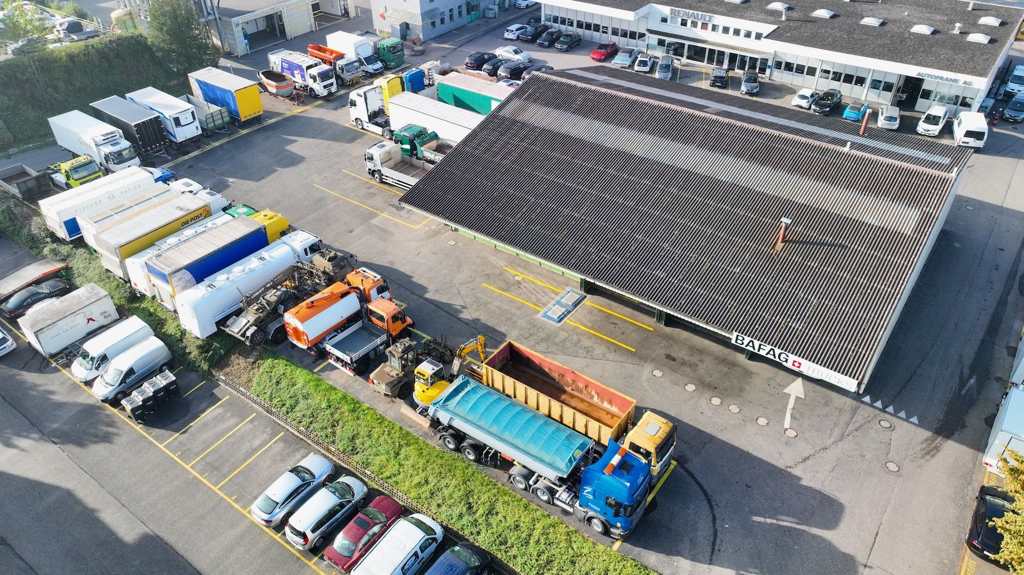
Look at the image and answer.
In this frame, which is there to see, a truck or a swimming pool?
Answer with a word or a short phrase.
truck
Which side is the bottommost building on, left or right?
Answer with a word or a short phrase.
right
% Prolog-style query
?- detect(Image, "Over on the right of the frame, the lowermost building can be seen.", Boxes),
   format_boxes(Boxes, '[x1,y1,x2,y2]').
[398,64,972,408]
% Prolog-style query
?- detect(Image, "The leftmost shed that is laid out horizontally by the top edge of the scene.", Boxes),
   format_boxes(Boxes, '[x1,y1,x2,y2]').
[186,0,371,57]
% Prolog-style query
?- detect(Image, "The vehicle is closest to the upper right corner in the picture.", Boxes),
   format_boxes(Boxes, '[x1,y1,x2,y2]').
[1002,67,1024,97]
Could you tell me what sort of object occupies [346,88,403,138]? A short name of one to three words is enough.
truck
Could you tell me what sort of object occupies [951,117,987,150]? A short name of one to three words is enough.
van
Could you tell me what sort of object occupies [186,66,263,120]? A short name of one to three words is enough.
trailer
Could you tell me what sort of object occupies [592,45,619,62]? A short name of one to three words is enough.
car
